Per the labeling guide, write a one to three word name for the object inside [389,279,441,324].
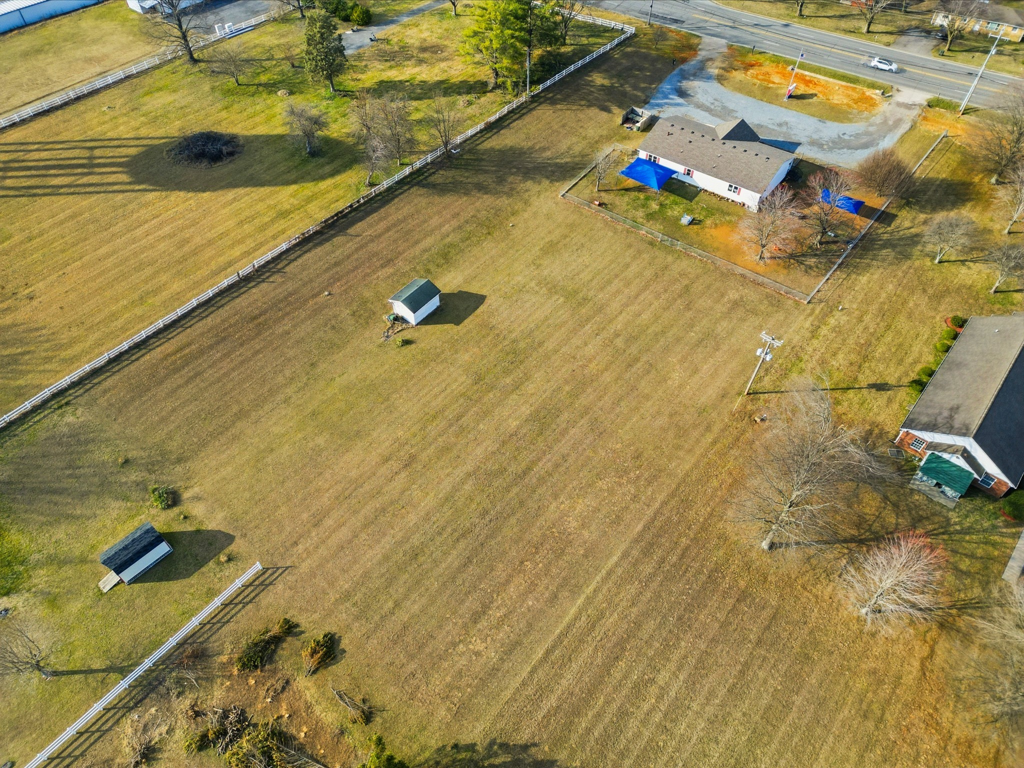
shed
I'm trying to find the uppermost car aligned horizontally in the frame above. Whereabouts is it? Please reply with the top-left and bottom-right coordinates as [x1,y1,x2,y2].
[872,56,900,71]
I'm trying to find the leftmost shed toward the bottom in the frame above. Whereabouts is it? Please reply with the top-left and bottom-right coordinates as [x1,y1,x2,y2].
[96,519,171,594]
